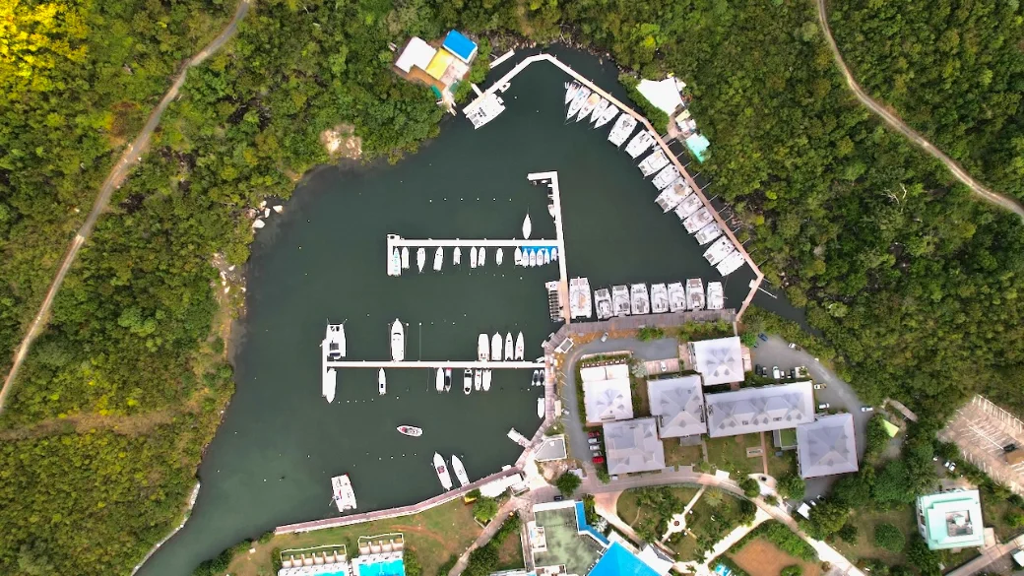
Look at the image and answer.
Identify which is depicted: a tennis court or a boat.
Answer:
boat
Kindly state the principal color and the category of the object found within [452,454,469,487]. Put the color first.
white boat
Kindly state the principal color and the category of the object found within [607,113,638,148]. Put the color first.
white boat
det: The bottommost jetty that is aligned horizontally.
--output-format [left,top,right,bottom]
[320,339,545,396]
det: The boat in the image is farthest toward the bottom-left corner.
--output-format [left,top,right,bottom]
[331,473,359,513]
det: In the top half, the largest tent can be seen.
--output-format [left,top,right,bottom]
[635,77,684,118]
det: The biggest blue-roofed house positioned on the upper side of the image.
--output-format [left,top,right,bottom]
[443,30,477,63]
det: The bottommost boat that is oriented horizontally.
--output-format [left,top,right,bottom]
[397,425,425,437]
